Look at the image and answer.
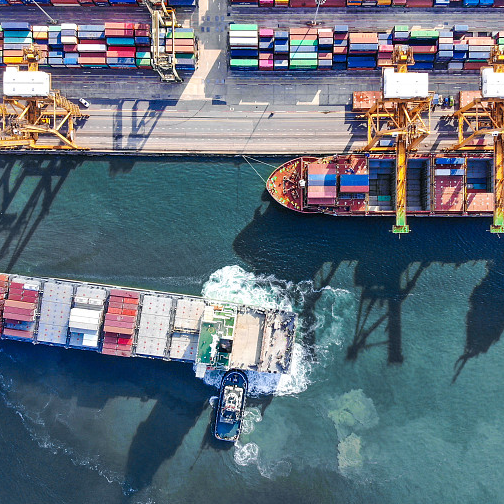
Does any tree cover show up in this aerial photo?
No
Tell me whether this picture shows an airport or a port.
port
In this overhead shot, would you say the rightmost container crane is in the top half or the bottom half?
top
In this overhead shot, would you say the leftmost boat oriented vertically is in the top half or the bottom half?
bottom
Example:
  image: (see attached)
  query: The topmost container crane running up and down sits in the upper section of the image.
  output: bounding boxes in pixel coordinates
[152,8,184,77]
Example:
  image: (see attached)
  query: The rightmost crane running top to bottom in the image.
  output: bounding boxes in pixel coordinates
[431,47,504,243]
